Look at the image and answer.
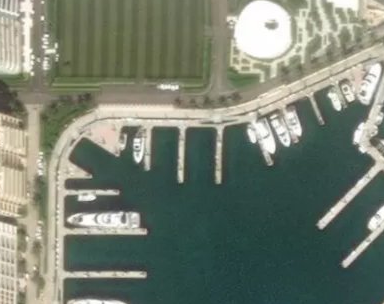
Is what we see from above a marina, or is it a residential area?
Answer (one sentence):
This image shows a marina.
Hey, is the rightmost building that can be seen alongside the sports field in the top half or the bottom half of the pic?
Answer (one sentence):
The rightmost building that can be seen alongside the sports field sits in the top half of the picture.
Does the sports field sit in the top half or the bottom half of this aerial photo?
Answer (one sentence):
The sports field is in the top half of the image.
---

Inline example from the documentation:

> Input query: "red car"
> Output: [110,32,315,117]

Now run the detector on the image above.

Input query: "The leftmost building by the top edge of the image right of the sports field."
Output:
[236,0,292,58]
